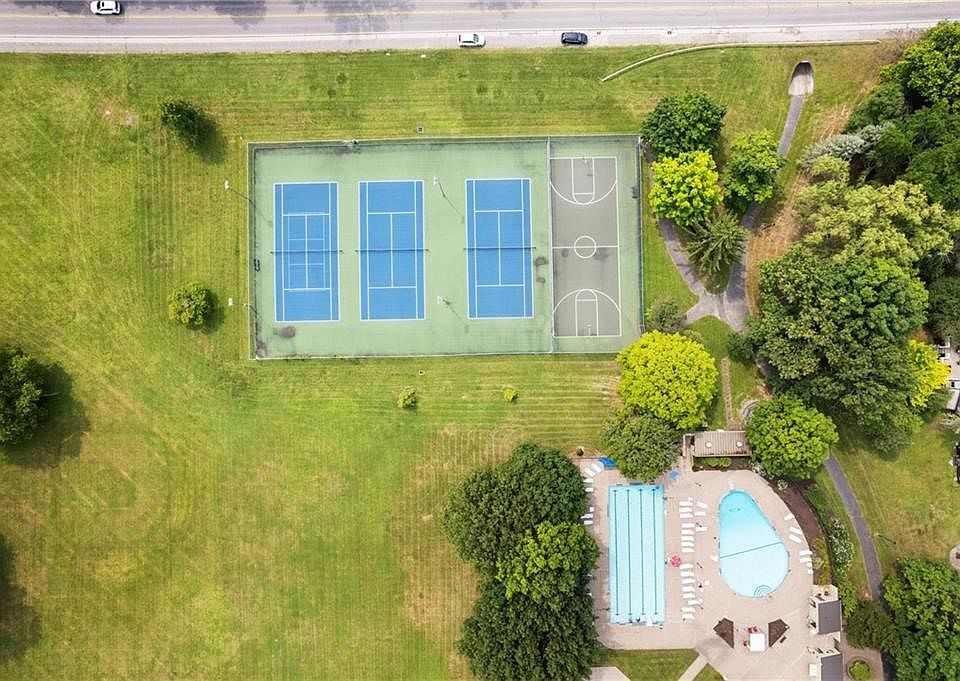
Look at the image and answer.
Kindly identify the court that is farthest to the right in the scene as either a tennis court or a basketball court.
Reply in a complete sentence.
The court that is farthest to the right appears to be a basketball court.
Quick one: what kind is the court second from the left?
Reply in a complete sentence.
In the photo, the court second from the left shows up as a tennis court.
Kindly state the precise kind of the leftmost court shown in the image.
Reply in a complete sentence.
The leftmost court is a tennis court.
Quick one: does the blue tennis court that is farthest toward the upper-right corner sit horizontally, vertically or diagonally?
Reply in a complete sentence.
In this picture, the blue tennis court that is farthest toward the upper-right corner is oriented vertically.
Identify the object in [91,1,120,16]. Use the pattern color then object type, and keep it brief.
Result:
white car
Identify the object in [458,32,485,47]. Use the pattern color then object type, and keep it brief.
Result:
white car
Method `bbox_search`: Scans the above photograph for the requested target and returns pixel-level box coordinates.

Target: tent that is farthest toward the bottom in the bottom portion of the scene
[742,627,765,652]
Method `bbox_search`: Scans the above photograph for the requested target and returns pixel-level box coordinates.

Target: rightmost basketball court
[549,157,620,338]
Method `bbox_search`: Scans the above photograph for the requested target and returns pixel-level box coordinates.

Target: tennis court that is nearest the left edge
[273,181,340,323]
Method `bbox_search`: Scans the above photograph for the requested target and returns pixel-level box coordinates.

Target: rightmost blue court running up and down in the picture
[465,177,533,319]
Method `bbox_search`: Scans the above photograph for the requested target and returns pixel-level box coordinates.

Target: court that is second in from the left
[358,180,426,321]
